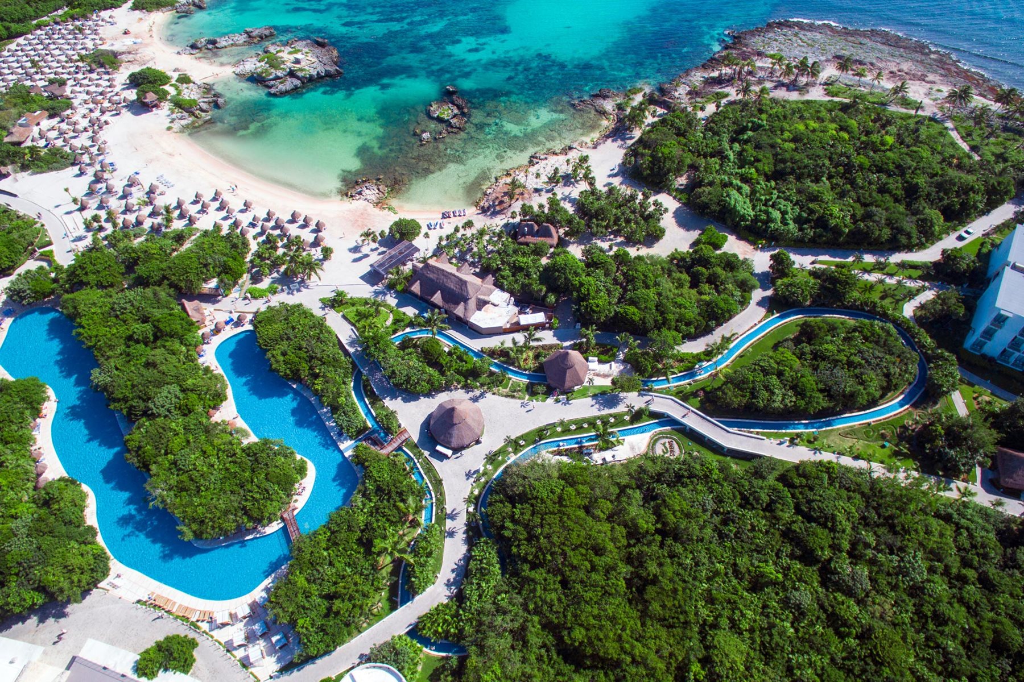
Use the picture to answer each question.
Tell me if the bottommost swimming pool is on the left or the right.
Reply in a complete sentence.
The bottommost swimming pool sits on the left side.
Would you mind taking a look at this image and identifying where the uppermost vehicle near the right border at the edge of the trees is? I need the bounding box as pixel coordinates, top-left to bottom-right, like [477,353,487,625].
[960,227,974,240]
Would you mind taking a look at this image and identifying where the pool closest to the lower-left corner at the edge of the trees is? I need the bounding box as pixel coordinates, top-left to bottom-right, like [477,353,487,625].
[0,308,357,599]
